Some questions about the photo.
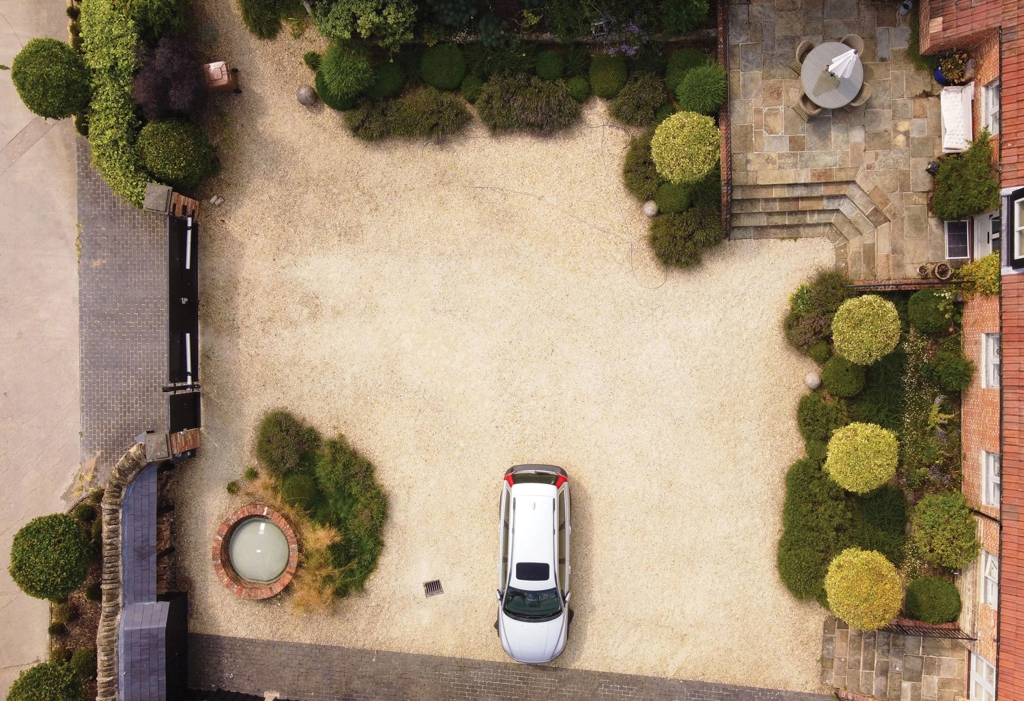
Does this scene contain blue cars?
No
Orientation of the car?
from top to bottom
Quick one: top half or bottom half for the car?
bottom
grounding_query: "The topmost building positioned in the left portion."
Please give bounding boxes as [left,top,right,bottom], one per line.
[122,461,176,605]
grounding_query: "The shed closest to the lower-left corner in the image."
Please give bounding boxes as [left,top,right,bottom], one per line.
[119,596,188,701]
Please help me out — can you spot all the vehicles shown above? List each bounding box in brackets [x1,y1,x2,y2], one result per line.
[494,462,576,665]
